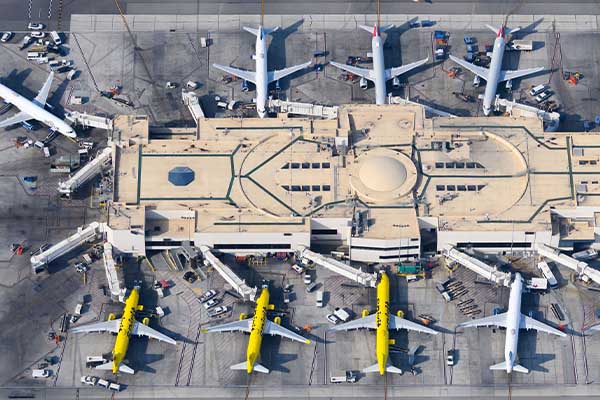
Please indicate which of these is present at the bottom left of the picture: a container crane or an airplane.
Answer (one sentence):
There is an airplane at the bottom left of the picture.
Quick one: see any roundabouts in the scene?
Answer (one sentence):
No, the photo shows no roundabout.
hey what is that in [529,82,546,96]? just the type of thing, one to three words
vehicle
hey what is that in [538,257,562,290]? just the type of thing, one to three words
bus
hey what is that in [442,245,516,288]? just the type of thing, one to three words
jet bridge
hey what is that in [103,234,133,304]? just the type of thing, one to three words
jet bridge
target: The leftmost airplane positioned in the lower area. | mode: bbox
[69,288,176,375]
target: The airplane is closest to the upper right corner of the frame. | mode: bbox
[447,16,547,116]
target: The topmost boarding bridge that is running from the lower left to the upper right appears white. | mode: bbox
[50,148,112,199]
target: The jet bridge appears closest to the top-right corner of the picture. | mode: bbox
[490,97,558,132]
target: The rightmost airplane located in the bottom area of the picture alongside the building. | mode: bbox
[458,273,568,374]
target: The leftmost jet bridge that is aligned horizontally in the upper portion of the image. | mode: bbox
[60,110,113,138]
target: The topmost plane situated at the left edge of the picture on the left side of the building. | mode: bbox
[0,71,76,137]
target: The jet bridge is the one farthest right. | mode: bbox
[536,244,600,283]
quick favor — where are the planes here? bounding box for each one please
[327,17,430,104]
[69,288,176,375]
[203,286,309,374]
[458,273,568,374]
[447,16,547,116]
[0,71,76,137]
[326,272,434,375]
[212,16,312,118]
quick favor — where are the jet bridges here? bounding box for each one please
[60,110,113,138]
[202,245,260,303]
[442,245,516,288]
[536,244,600,283]
[50,148,112,199]
[103,234,133,304]
[29,224,108,275]
[379,93,461,118]
[490,97,558,132]
[265,99,338,118]
[183,86,204,128]
[299,245,384,291]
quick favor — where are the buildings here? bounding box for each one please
[107,104,600,262]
